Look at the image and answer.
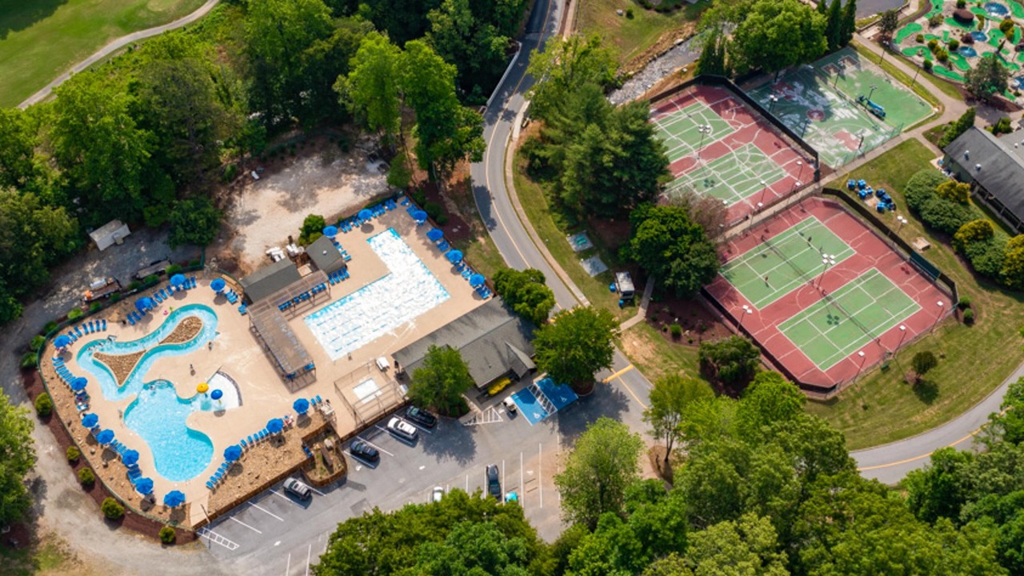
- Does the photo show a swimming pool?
Yes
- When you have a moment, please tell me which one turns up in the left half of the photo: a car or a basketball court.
car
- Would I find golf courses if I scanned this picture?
Yes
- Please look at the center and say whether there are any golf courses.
No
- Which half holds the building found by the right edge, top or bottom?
top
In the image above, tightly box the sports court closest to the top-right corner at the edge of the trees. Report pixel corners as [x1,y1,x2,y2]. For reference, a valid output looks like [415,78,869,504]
[819,46,938,131]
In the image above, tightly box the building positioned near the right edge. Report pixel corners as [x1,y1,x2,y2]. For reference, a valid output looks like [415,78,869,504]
[940,127,1024,237]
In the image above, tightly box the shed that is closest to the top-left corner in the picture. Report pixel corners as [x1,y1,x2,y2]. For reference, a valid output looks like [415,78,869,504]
[89,222,132,258]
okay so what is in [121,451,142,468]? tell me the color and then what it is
blue umbrella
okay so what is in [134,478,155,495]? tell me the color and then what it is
blue umbrella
